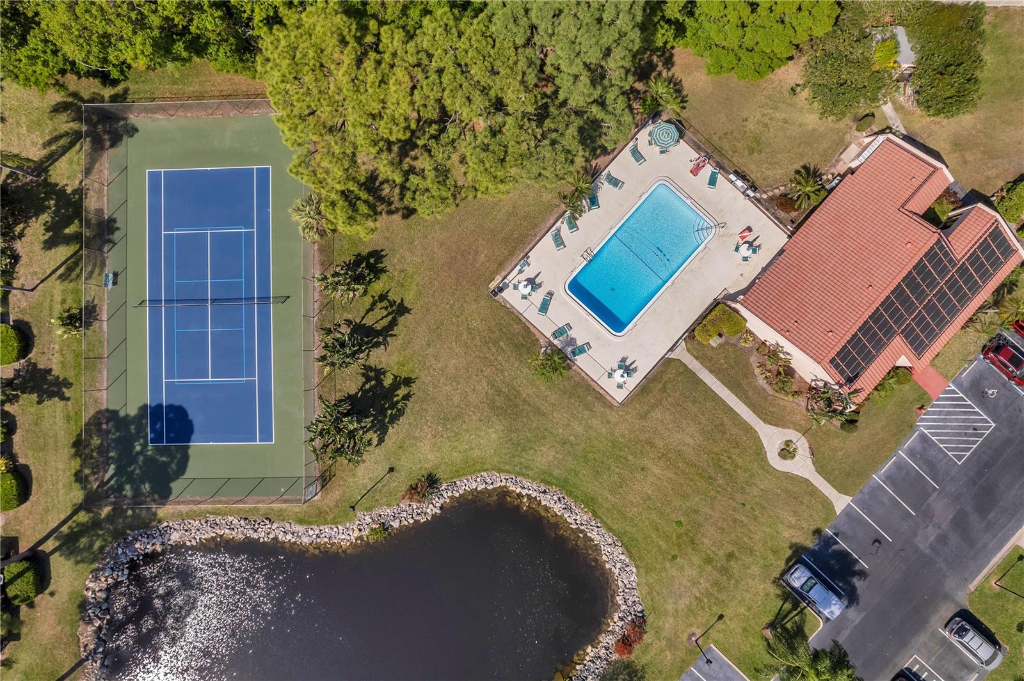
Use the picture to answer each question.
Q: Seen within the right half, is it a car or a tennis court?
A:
car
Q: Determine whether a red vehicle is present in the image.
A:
Yes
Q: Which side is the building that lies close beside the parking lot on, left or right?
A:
right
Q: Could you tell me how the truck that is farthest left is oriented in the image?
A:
on a diagonal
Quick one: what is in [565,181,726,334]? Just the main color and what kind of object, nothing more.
blue swimming pool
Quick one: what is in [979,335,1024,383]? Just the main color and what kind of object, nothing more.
red car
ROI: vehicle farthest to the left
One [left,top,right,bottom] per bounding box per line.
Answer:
[785,563,843,620]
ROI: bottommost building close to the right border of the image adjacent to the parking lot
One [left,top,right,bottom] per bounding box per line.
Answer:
[735,129,1024,409]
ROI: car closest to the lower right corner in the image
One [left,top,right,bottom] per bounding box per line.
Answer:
[943,612,997,663]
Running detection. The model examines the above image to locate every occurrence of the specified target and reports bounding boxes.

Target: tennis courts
[107,114,314,500]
